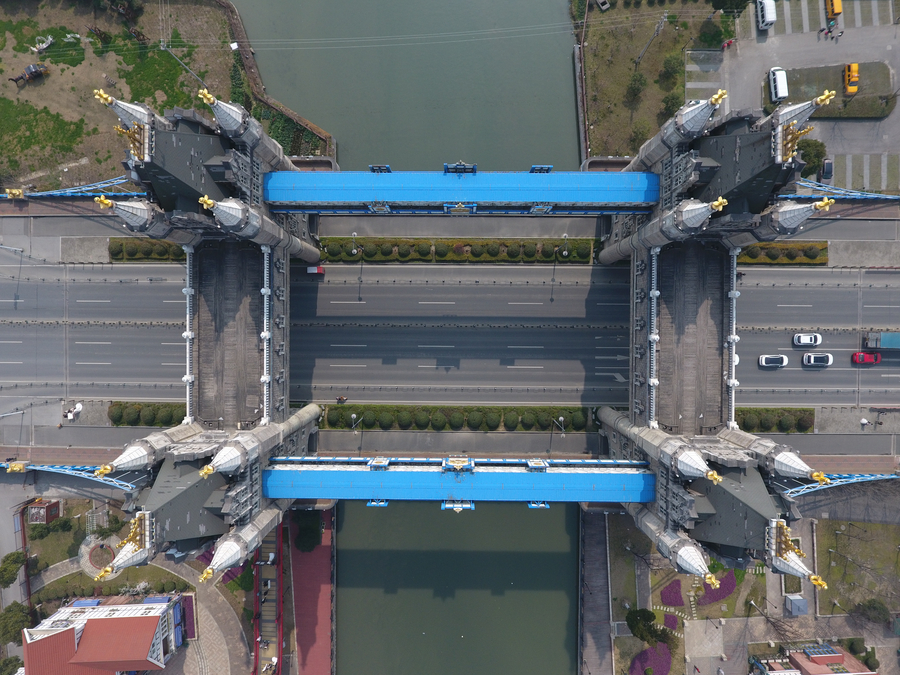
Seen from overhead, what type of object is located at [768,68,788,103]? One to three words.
vehicle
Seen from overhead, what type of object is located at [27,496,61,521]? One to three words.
shed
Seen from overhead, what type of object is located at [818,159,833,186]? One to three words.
car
